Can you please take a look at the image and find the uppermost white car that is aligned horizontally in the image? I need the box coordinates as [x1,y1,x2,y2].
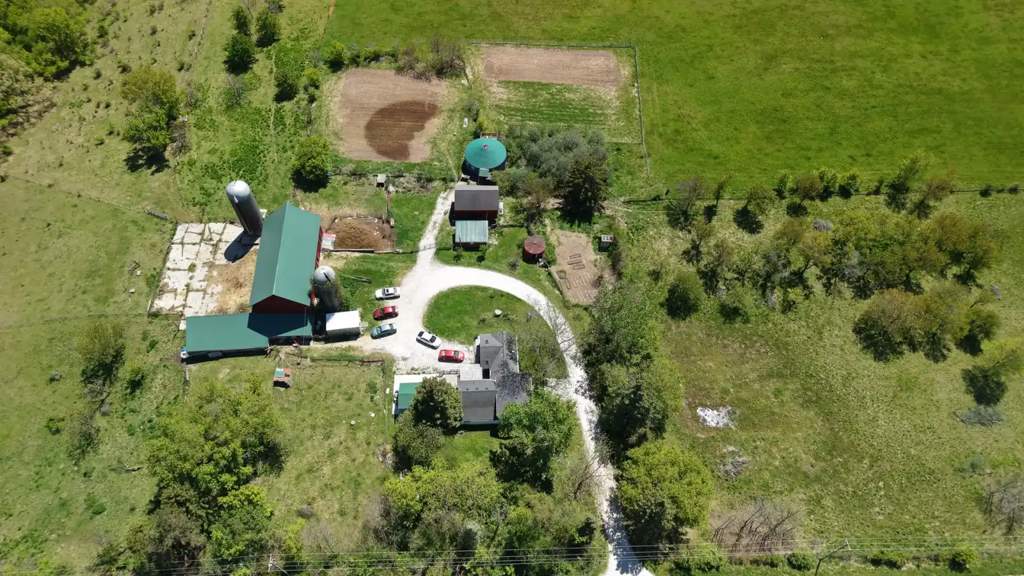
[375,288,400,301]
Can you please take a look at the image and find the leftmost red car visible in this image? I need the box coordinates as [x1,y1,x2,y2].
[373,306,398,319]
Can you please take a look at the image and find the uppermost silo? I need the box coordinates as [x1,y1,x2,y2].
[225,181,264,238]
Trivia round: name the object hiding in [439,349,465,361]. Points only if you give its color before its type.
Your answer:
red vehicle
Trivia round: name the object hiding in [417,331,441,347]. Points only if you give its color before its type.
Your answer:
white car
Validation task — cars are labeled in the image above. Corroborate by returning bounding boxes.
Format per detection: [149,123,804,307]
[373,306,398,319]
[371,323,397,337]
[375,288,400,301]
[417,331,441,347]
[439,349,465,361]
